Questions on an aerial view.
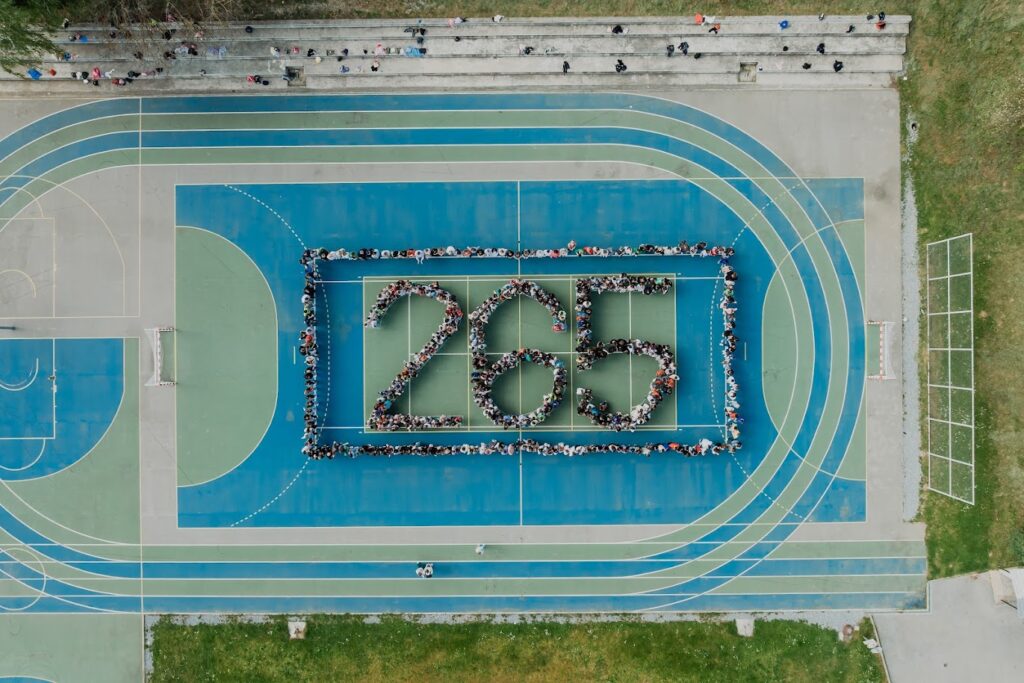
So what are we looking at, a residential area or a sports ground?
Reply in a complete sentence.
This looks like a sports ground.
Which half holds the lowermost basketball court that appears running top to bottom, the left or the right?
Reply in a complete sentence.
The lowermost basketball court that appears running top to bottom is on the left side of the image.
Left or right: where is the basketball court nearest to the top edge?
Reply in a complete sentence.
The basketball court nearest to the top edge is on the left side of the image.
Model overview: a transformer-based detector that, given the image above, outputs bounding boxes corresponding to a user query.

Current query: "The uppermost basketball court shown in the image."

[0,96,142,318]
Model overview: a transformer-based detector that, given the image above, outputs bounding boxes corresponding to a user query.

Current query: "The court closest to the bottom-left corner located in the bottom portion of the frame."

[0,336,144,683]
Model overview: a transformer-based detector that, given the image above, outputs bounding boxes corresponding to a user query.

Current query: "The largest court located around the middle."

[160,177,883,529]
